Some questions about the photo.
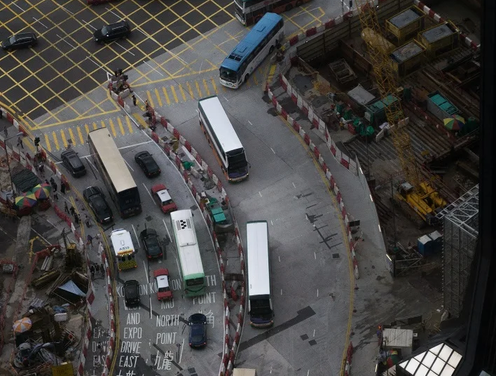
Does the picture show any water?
No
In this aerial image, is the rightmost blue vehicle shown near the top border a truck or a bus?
bus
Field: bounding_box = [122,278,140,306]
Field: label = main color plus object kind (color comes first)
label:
black car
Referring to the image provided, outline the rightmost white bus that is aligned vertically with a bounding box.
[246,221,274,315]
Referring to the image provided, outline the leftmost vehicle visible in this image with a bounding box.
[2,31,35,49]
